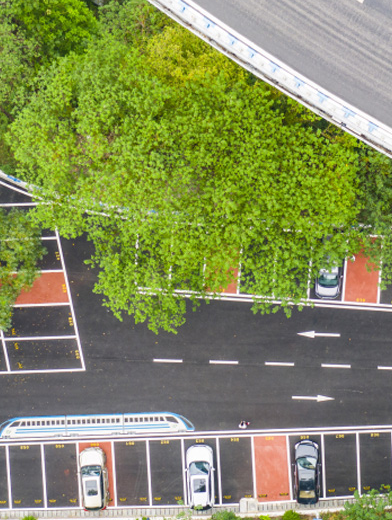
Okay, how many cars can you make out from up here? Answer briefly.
4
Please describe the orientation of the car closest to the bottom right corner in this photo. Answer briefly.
from top to bottom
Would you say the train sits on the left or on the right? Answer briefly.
left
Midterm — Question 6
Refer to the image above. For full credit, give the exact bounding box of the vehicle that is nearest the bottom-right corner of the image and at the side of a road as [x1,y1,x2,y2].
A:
[290,439,320,505]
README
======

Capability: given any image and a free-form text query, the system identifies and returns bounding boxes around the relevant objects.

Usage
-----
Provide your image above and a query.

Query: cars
[181,442,216,510]
[290,439,320,505]
[312,240,343,301]
[73,443,111,510]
